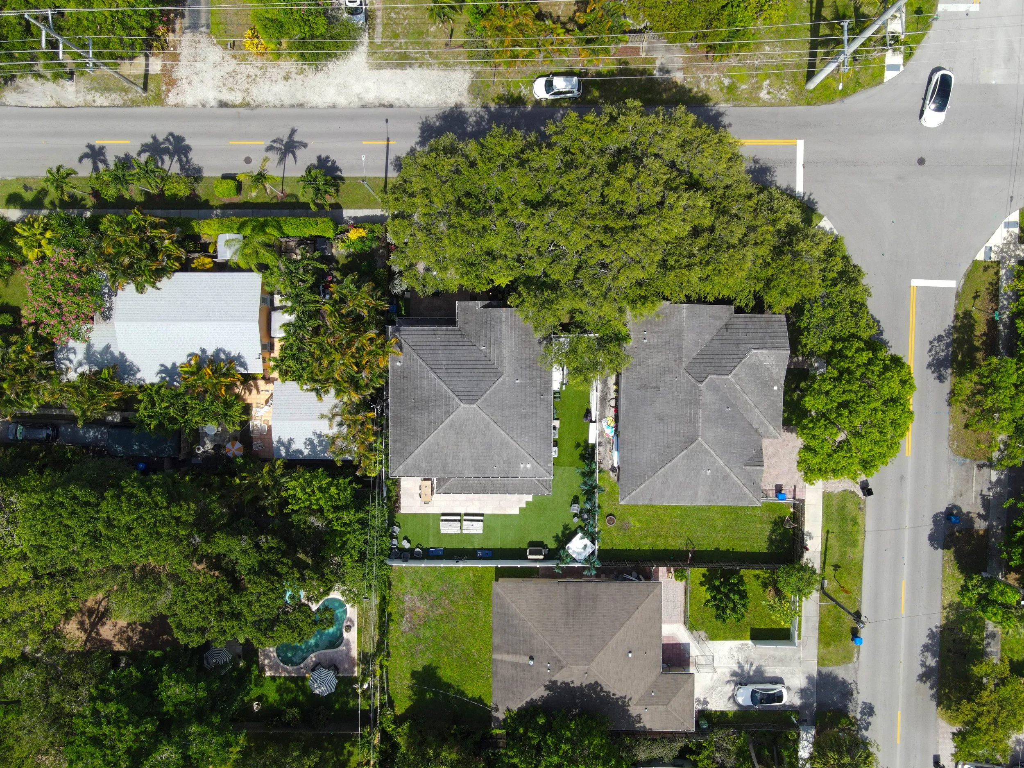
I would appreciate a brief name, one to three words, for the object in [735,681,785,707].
car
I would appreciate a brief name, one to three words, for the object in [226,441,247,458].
umbrella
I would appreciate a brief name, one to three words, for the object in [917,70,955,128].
car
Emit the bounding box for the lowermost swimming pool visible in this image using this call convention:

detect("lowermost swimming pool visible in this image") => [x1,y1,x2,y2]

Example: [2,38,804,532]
[275,594,352,671]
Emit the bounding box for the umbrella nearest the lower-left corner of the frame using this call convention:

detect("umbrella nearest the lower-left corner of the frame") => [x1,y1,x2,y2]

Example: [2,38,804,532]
[204,647,232,674]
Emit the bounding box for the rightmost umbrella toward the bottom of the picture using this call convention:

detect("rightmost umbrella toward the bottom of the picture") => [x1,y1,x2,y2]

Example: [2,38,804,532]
[309,668,338,696]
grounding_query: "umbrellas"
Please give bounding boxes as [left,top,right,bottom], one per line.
[226,441,247,458]
[309,668,338,696]
[204,647,232,674]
